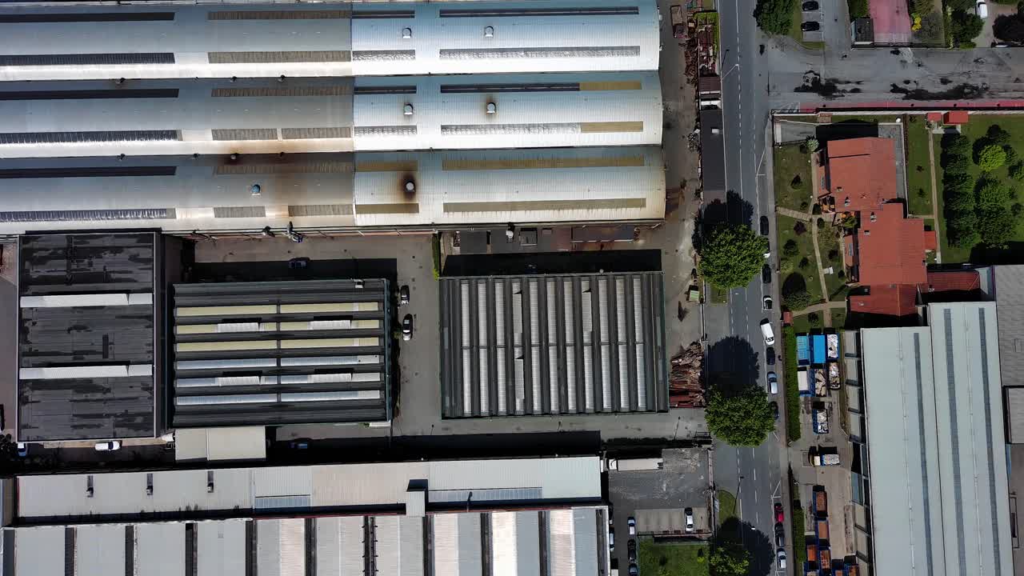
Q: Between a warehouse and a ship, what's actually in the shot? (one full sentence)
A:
Looking from above, you can make out a warehouse.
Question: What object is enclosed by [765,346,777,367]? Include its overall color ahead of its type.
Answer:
black vehicle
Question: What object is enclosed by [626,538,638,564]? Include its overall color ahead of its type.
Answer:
black vehicle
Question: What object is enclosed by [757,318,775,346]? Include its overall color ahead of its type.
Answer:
white vehicle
